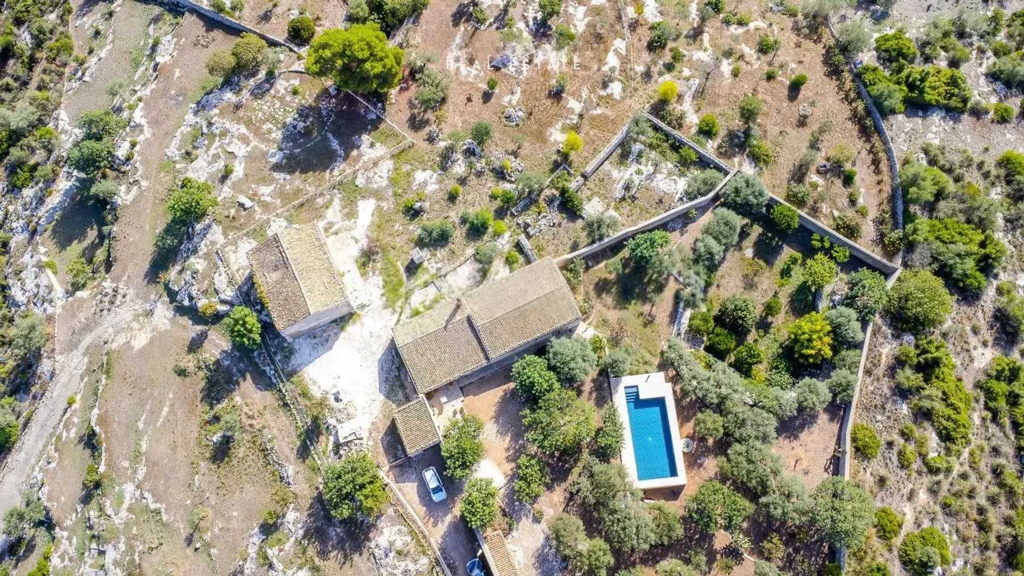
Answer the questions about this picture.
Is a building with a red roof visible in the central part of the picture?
No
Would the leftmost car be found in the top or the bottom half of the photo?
bottom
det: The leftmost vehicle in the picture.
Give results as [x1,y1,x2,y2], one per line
[422,465,447,505]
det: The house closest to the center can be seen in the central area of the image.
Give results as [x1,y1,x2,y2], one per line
[393,258,581,398]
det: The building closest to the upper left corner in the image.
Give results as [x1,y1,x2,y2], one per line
[247,223,353,339]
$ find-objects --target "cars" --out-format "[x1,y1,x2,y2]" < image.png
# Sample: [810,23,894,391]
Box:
[467,555,486,576]
[422,465,447,505]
